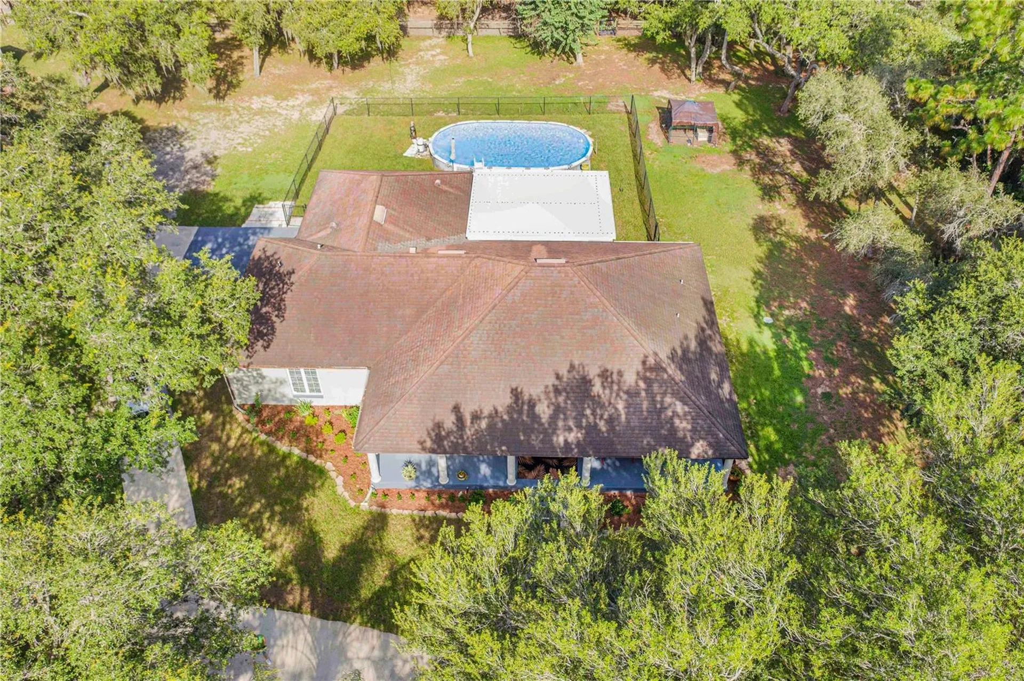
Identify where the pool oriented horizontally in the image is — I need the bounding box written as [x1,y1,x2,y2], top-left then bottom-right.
[426,120,593,182]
